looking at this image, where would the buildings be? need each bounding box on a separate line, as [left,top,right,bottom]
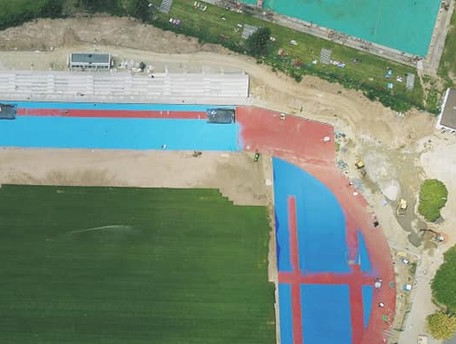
[68,52,112,73]
[435,87,456,137]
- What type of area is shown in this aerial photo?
sports ground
